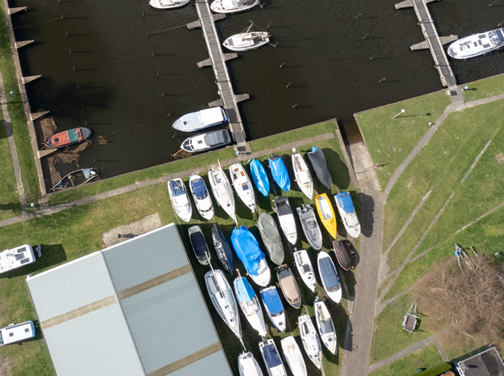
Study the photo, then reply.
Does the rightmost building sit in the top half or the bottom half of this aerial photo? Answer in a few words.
bottom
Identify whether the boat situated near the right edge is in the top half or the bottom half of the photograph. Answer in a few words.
top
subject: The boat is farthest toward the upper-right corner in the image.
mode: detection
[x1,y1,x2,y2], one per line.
[446,27,504,56]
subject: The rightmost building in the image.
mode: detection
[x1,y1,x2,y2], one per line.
[448,345,504,376]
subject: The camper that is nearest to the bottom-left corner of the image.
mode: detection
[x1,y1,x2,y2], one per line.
[0,319,38,347]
